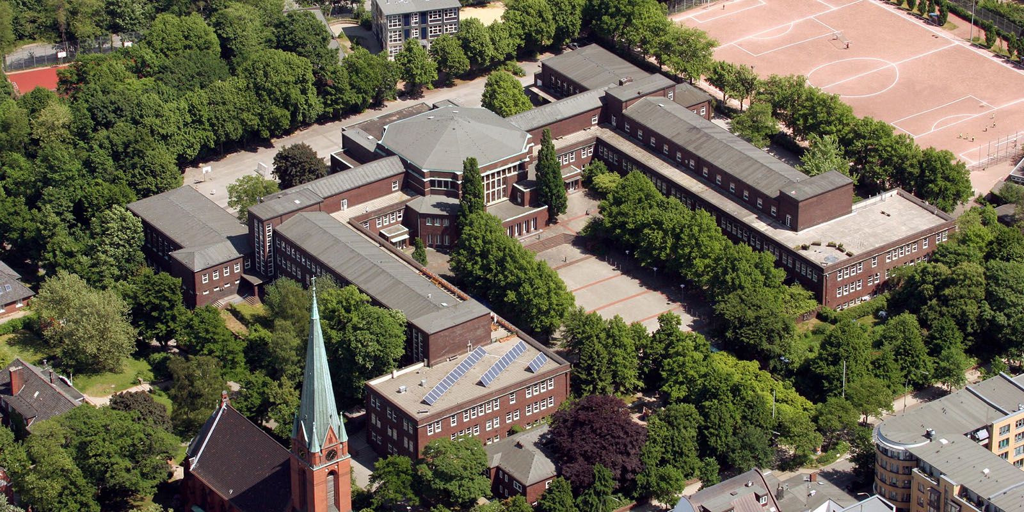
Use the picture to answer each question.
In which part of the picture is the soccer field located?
top right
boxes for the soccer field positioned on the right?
[592,0,1024,194]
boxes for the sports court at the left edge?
[10,66,77,116]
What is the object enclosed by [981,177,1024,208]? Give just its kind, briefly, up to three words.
shed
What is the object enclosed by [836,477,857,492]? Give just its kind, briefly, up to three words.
car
